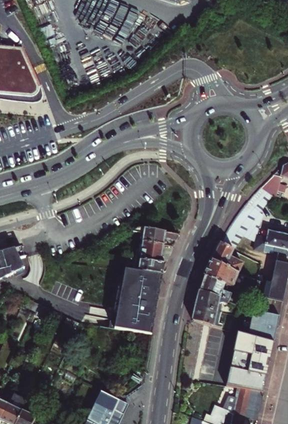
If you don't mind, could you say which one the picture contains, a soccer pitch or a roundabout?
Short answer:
roundabout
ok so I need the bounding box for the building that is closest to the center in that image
[142,226,166,244]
